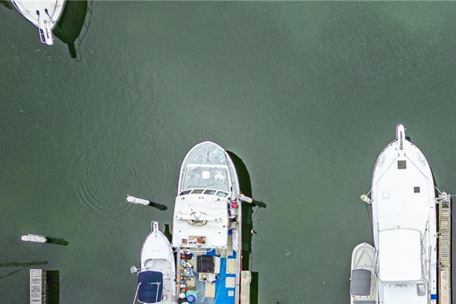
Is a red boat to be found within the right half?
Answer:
No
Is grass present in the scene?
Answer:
No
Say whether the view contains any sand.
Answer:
No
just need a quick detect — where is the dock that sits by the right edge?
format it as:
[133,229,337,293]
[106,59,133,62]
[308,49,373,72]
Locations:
[439,197,452,304]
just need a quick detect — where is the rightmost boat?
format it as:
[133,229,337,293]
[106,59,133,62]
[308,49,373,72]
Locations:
[371,123,438,304]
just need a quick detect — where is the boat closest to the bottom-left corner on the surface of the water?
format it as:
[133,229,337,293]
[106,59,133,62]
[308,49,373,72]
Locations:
[130,220,176,304]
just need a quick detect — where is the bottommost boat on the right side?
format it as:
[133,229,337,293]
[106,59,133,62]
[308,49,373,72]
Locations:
[349,243,377,304]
